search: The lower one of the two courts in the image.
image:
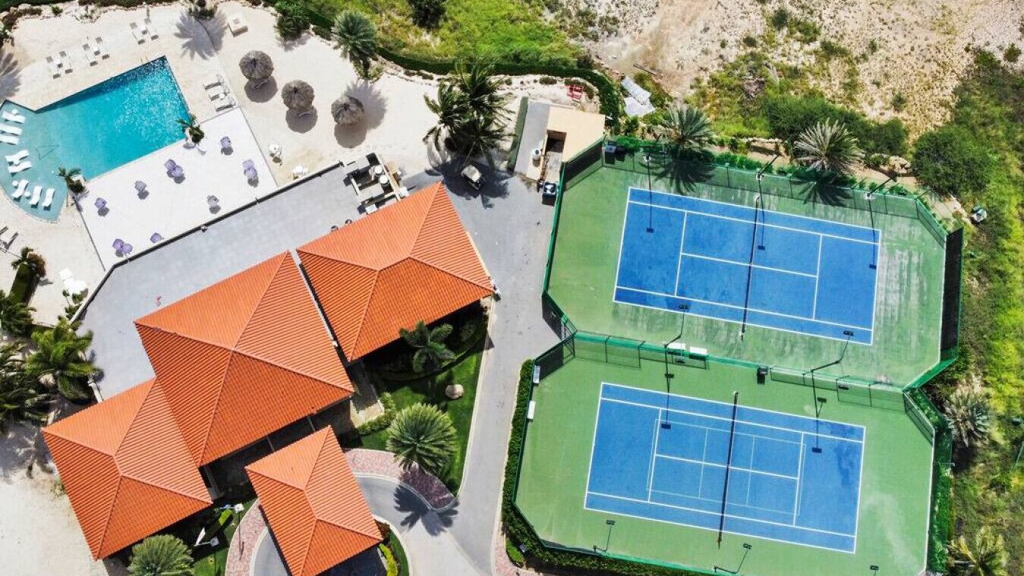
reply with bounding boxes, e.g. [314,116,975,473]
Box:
[517,336,934,576]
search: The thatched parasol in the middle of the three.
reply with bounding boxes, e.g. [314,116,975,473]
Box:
[281,88,316,120]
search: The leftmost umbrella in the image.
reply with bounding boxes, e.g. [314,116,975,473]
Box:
[238,58,275,92]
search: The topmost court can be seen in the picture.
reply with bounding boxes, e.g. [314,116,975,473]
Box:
[547,146,944,389]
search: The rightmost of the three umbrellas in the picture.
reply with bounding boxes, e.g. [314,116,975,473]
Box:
[331,101,367,135]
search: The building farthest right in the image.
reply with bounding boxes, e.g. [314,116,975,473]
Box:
[537,106,605,185]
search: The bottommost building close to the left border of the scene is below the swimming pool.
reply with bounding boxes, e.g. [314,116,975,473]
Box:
[43,375,215,560]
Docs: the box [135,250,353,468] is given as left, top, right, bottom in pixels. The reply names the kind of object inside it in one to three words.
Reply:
building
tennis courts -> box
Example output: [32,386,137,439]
[547,146,944,389]
[517,336,934,576]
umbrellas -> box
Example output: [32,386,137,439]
[281,88,316,120]
[238,58,275,92]
[331,101,367,135]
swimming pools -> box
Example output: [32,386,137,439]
[0,54,190,221]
